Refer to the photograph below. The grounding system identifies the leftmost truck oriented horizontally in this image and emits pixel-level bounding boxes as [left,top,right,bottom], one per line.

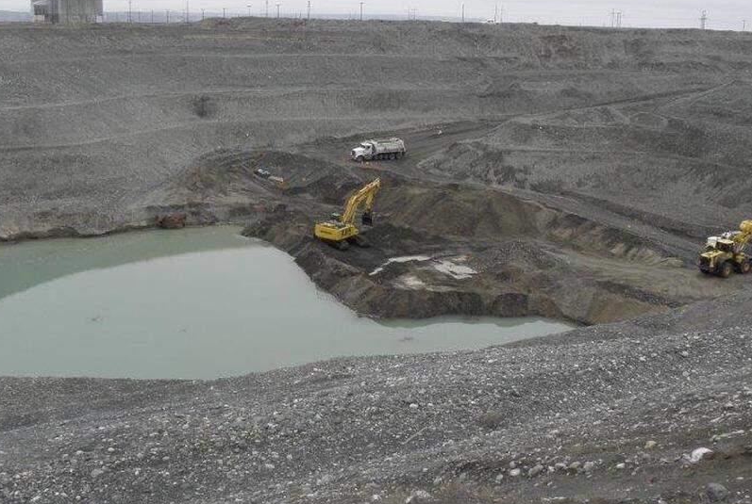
[348,138,409,160]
